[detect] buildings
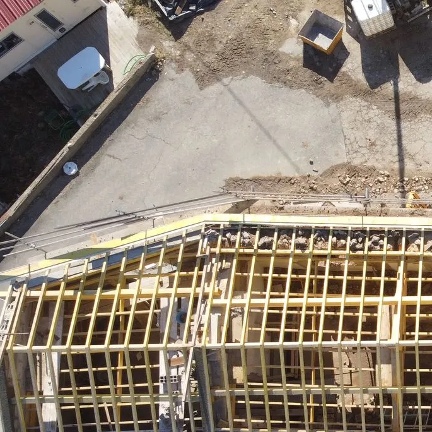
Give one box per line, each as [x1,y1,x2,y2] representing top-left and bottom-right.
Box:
[0,212,432,432]
[0,0,105,82]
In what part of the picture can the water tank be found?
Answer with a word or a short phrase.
top right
